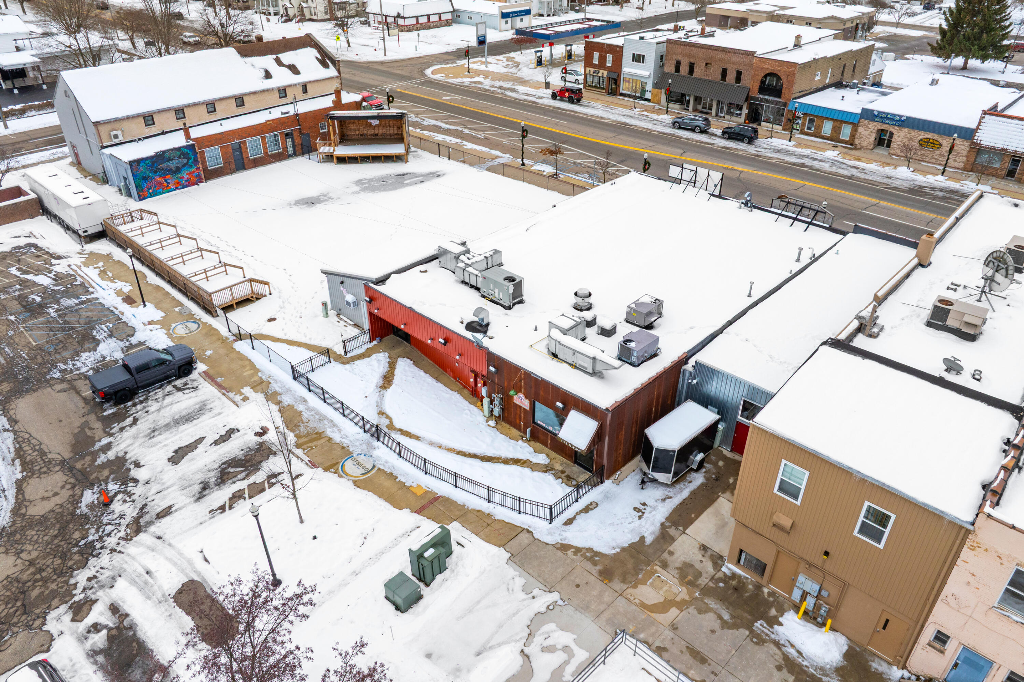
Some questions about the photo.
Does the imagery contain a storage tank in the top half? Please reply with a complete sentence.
No, no storage tank can be made out in the top half.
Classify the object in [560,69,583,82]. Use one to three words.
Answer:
vehicle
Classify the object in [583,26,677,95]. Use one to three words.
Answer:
building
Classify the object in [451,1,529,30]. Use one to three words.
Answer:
building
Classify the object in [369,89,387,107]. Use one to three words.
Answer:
vehicle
